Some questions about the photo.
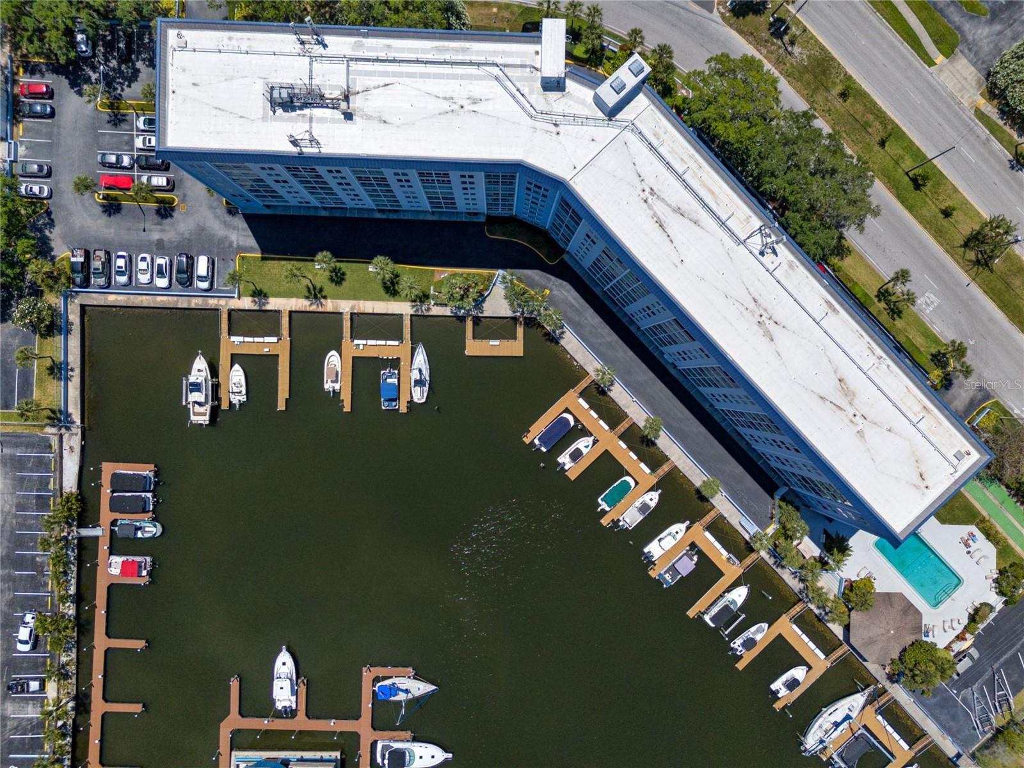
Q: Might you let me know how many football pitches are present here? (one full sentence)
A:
I count no football pitches.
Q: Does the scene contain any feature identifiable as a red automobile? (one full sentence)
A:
Yes, the photo shows a red automobile.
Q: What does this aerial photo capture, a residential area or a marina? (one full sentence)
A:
It's a marina.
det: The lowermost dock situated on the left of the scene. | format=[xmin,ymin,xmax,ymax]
[219,665,413,768]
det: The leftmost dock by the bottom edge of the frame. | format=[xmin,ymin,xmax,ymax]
[88,461,155,768]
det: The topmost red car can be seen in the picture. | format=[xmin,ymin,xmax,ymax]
[17,80,54,100]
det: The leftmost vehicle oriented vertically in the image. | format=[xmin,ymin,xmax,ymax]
[13,609,38,654]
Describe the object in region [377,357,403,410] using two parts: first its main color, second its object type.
blue boat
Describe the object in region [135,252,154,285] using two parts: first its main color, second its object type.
white car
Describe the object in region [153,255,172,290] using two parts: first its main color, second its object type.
white car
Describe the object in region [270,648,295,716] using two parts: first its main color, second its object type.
white boat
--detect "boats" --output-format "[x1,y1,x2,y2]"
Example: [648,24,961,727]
[619,489,662,528]
[377,357,403,410]
[324,346,342,397]
[106,556,161,580]
[598,465,635,510]
[108,471,163,493]
[228,361,246,407]
[900,763,920,768]
[705,573,751,628]
[376,673,438,716]
[231,745,343,768]
[409,343,429,403]
[112,519,162,538]
[270,648,295,716]
[184,350,211,430]
[107,493,163,515]
[557,431,594,469]
[641,521,694,564]
[767,667,812,697]
[656,544,699,587]
[535,414,583,451]
[799,690,885,768]
[376,738,449,768]
[729,625,771,654]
